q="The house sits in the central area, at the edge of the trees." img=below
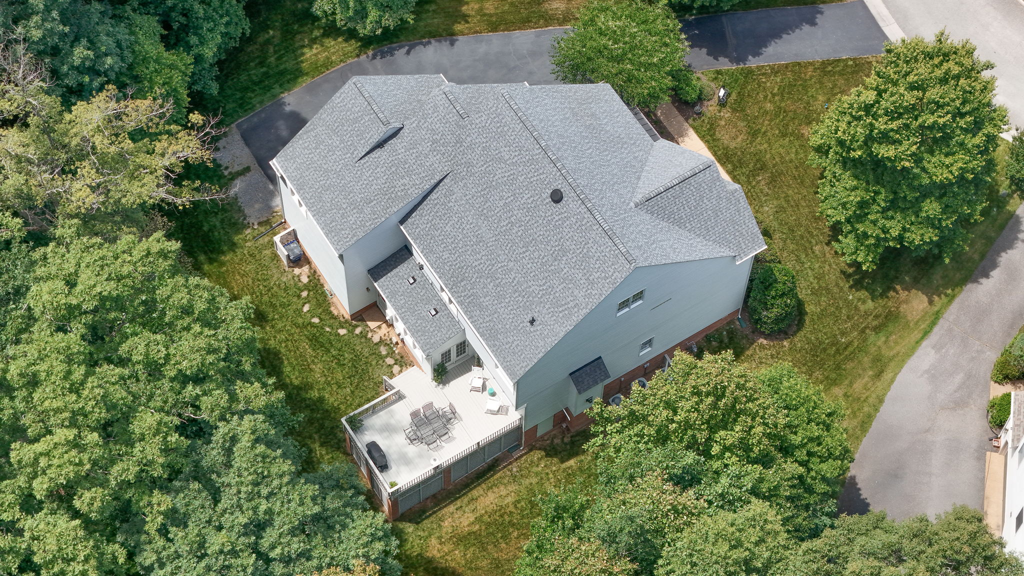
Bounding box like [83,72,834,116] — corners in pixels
[271,74,768,450]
